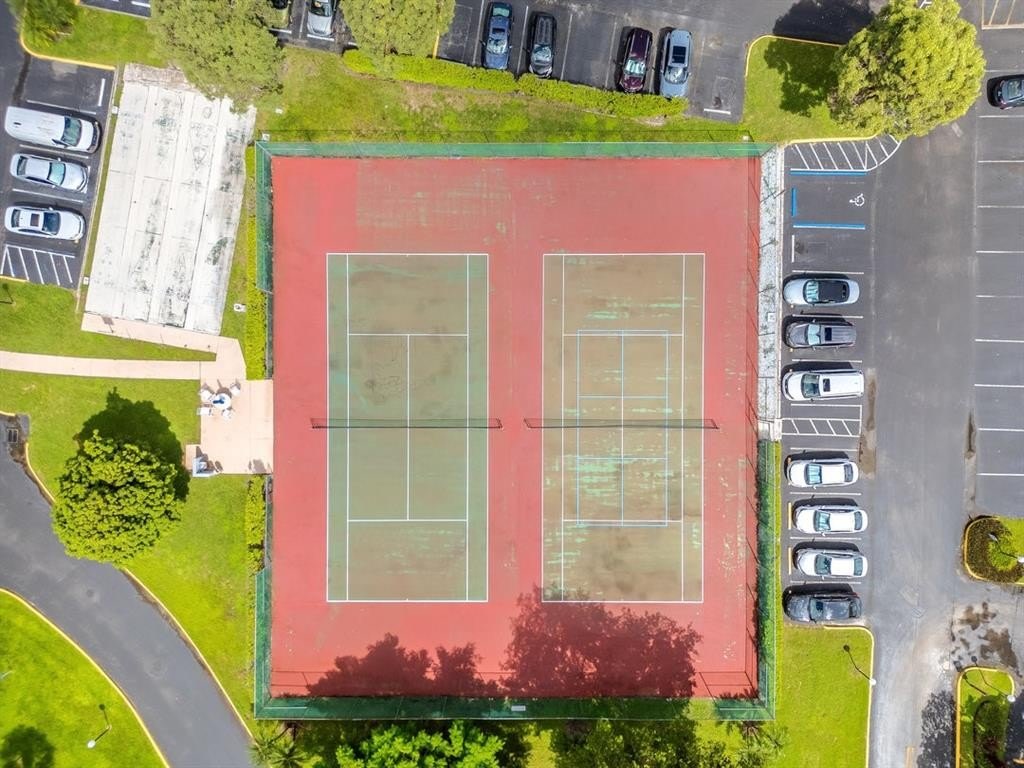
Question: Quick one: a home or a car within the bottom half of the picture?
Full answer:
There is a car within the bottom half of the picture.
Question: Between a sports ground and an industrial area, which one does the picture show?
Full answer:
What you see here is a sports ground.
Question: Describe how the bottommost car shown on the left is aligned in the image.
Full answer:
In this picture, the bottommost car shown on the left lies horizontally.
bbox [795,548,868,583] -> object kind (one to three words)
car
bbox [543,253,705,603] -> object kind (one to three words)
tennis court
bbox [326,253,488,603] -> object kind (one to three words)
tennis court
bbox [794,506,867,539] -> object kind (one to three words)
car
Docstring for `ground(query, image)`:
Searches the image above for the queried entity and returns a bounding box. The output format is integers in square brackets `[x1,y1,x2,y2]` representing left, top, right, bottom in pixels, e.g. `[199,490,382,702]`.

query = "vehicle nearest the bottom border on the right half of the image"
[783,590,860,626]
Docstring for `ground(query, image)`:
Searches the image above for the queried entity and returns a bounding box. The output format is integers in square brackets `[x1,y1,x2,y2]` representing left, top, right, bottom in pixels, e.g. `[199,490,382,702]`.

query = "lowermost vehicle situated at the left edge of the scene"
[6,207,86,242]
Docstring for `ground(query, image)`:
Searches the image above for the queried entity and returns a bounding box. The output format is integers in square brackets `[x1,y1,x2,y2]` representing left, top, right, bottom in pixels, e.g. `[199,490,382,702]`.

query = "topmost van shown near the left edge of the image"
[4,104,103,153]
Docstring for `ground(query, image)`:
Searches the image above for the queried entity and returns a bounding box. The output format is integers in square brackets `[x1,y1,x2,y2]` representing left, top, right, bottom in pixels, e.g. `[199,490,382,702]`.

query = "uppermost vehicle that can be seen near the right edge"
[994,81,1024,113]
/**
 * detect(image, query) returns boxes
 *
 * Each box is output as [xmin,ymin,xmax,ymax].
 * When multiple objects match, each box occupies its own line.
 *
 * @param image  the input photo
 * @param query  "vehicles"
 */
[785,457,858,490]
[658,29,694,102]
[794,506,867,539]
[4,104,103,153]
[525,13,559,82]
[795,548,868,583]
[781,369,862,405]
[306,0,342,41]
[785,318,854,352]
[782,274,859,309]
[481,1,516,75]
[619,27,656,98]
[6,207,86,242]
[783,590,860,626]
[994,81,1024,113]
[11,153,91,193]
